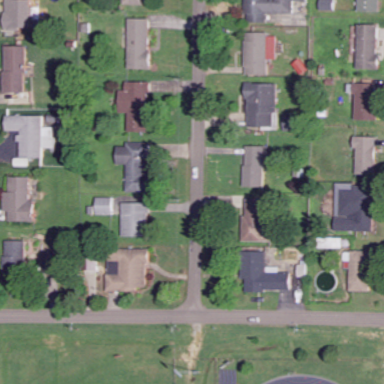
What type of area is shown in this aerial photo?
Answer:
residential area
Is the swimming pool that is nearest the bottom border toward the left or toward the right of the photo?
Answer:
right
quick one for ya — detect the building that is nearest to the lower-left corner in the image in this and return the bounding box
[2,240,25,272]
